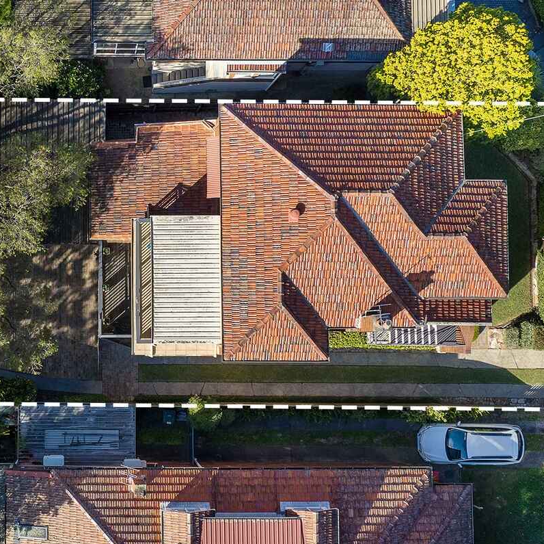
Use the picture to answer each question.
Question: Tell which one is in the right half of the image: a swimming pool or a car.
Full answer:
What appears in the right half of the image is a car.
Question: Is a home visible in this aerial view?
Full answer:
Yes, the frame does contain a home.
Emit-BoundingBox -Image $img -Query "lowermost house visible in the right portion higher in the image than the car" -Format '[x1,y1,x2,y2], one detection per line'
[217,102,512,363]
